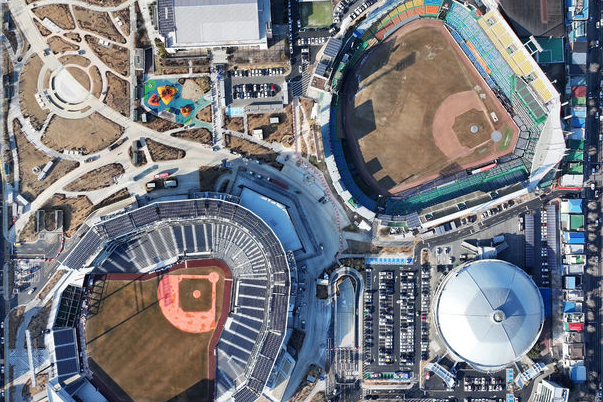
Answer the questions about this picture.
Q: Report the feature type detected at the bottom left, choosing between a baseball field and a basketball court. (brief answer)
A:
baseball field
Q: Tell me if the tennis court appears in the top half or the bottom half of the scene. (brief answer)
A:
top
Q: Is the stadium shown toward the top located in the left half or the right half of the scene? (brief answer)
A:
right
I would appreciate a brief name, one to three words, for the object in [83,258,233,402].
baseball field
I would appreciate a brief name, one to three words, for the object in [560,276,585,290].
building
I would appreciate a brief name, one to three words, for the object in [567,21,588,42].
building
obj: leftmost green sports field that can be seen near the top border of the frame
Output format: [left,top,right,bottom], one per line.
[300,0,333,29]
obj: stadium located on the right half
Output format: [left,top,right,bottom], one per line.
[304,0,580,240]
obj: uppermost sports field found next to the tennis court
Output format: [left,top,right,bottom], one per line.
[498,0,564,36]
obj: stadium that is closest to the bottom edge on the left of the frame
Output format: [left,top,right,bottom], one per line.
[46,189,306,402]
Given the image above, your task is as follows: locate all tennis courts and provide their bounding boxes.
[527,36,565,64]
